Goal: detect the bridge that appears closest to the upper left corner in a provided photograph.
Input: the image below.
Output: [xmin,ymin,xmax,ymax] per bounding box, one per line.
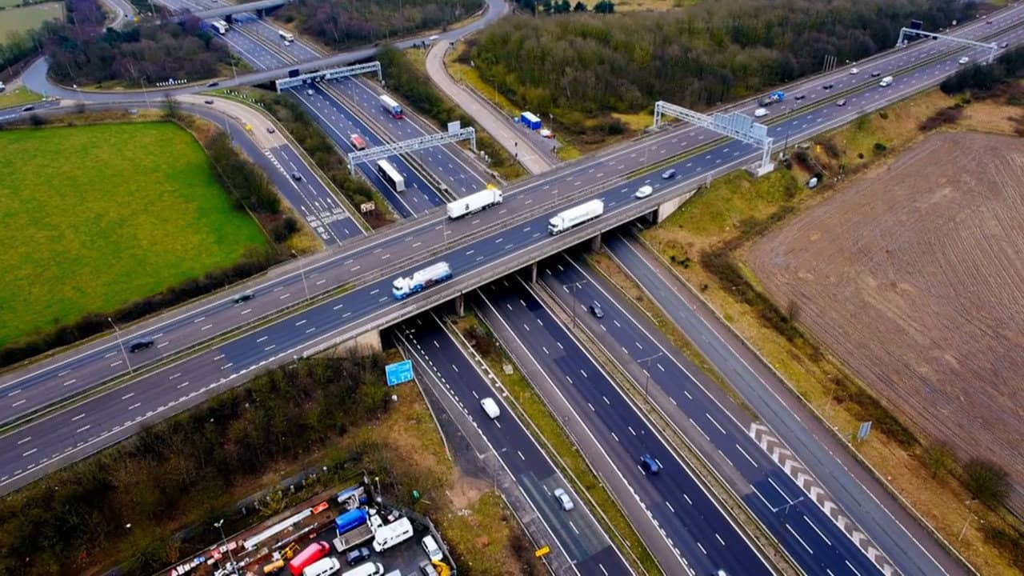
[179,0,281,24]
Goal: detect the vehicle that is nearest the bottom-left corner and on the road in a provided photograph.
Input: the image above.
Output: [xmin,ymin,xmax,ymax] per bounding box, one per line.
[128,338,154,352]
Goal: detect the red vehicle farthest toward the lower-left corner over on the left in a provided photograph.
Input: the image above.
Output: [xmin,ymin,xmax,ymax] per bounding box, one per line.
[288,548,332,576]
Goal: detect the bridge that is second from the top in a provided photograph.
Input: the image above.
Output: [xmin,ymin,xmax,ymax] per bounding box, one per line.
[248,48,374,88]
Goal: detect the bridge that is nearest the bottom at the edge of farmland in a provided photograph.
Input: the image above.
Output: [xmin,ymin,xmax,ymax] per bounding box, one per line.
[231,142,706,366]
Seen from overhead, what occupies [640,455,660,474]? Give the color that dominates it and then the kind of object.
blue car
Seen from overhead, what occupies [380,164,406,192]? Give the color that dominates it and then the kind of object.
white truck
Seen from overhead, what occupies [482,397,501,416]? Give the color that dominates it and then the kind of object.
white vehicle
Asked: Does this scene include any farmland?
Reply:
Yes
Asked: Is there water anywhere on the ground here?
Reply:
No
